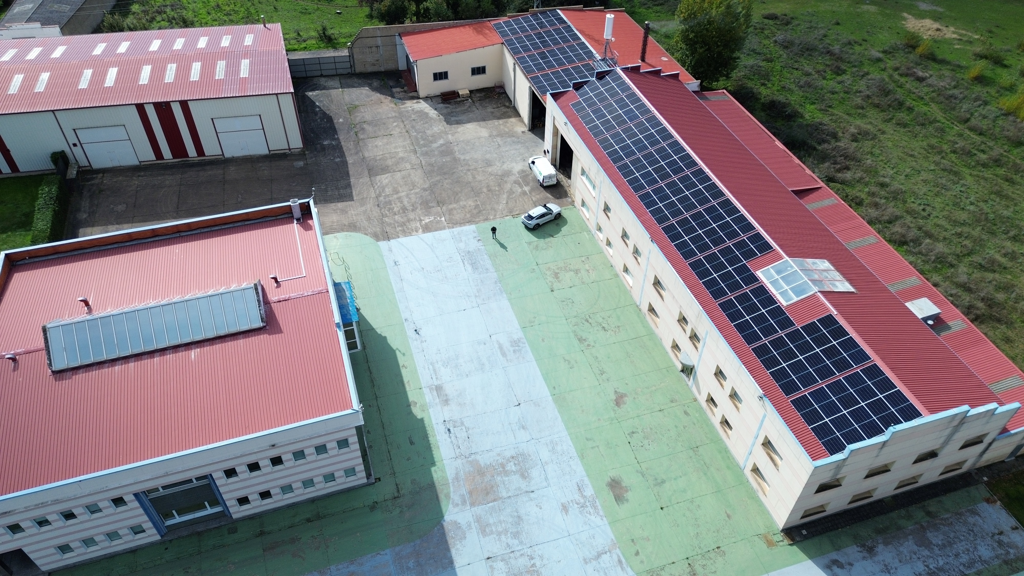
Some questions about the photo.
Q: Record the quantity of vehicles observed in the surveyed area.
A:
2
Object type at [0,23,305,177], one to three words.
warehouse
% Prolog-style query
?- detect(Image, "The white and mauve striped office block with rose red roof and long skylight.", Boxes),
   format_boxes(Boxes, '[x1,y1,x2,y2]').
[0,199,375,576]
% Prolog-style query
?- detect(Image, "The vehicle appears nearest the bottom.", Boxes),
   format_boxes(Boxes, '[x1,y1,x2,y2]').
[519,203,563,230]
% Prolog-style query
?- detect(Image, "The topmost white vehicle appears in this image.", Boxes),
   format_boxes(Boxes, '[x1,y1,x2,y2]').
[530,159,557,187]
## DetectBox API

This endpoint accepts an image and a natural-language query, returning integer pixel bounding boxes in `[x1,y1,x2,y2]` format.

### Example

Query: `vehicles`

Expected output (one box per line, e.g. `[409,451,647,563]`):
[519,203,563,230]
[530,159,557,187]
